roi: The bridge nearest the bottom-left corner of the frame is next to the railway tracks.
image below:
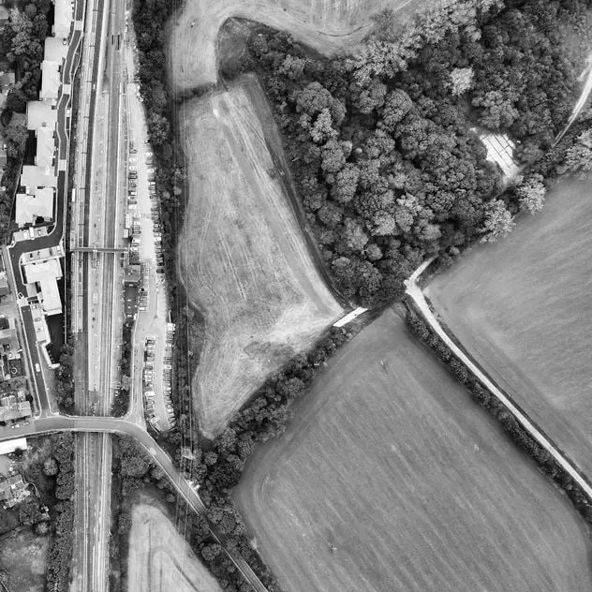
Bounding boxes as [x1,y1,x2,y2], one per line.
[34,415,145,437]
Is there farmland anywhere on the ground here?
Yes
